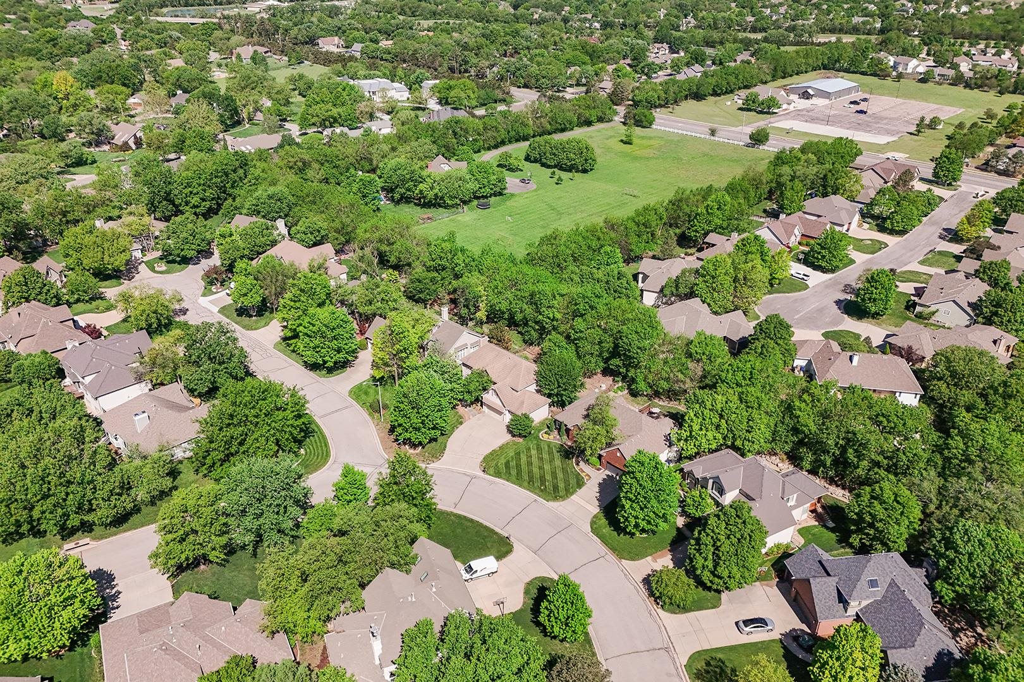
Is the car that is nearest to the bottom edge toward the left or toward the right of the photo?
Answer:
right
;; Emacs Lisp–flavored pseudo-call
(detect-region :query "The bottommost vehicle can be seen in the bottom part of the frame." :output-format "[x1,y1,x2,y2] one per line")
[738,614,779,634]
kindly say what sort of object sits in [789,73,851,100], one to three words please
building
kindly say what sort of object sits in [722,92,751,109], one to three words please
house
